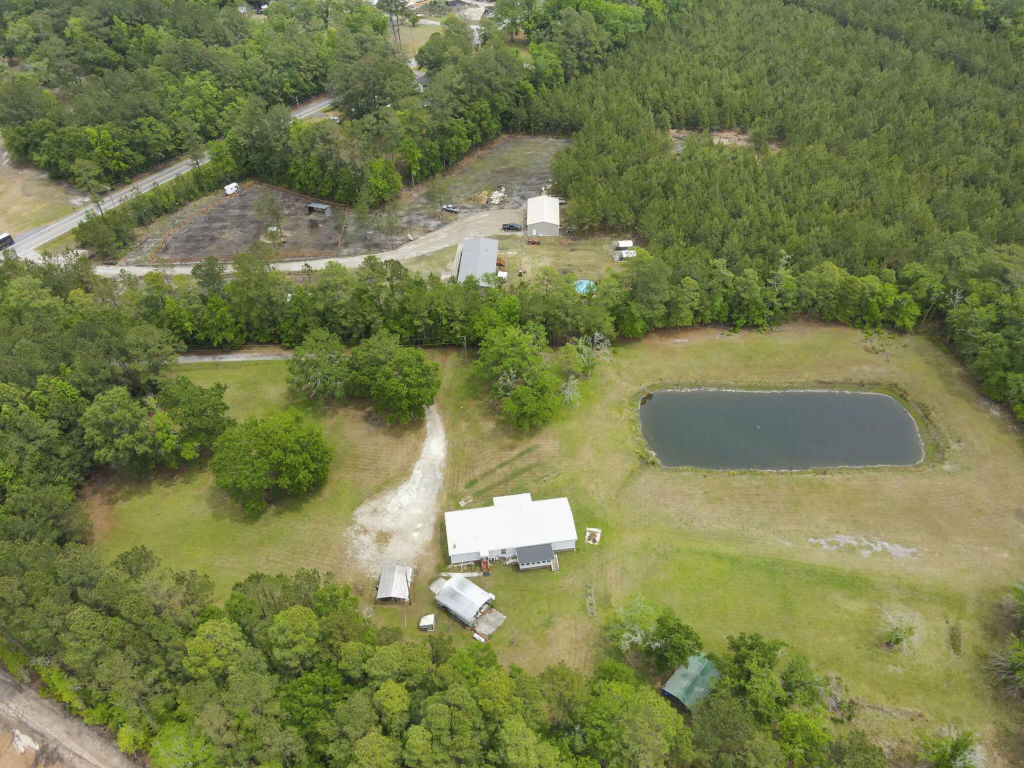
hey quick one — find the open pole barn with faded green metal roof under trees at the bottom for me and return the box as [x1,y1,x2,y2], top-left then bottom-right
[661,653,721,719]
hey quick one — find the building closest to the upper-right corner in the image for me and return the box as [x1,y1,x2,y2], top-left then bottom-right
[527,196,560,236]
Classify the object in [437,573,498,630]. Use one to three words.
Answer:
building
